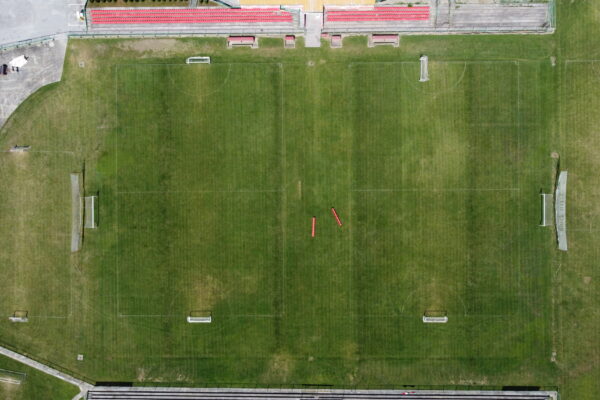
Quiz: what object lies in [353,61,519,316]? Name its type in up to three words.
soccer field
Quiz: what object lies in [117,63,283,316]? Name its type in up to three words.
soccer field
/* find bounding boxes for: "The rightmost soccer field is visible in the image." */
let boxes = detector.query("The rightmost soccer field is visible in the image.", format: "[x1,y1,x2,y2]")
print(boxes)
[564,60,600,330]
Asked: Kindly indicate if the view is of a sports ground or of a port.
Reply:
sports ground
